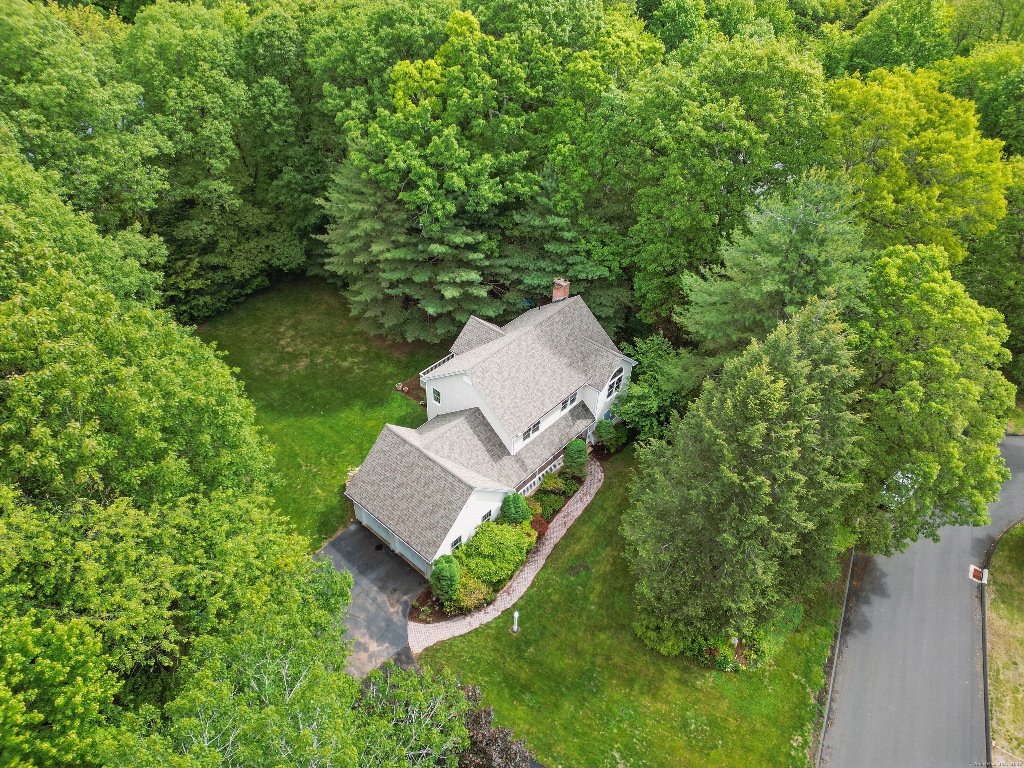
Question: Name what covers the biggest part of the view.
trees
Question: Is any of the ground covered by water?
No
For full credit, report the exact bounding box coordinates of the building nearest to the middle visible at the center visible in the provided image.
[344,277,639,582]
